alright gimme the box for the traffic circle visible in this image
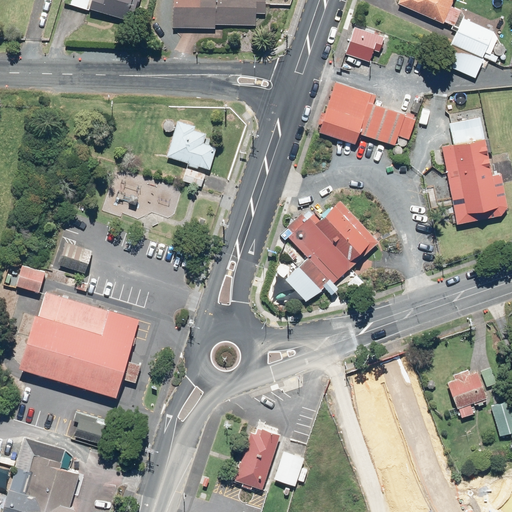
[210,340,241,372]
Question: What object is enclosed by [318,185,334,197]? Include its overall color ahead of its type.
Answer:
white vehicle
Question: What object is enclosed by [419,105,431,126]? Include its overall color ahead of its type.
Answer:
white vehicle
